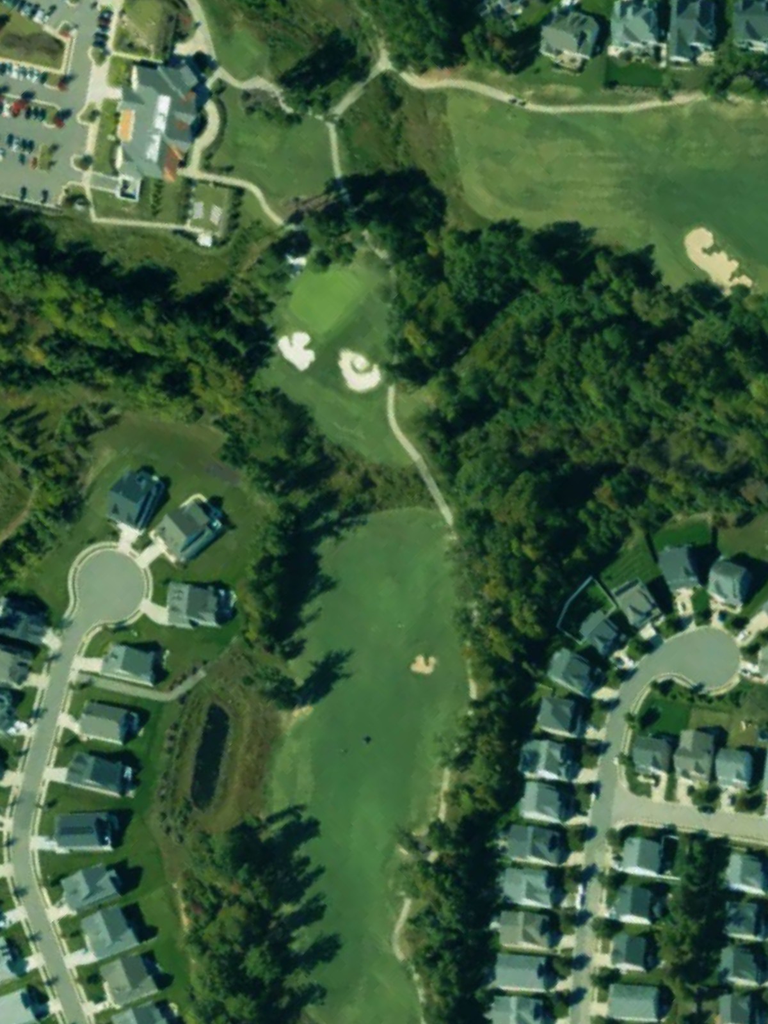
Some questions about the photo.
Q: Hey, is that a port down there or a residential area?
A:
residential area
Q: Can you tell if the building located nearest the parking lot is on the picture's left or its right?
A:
left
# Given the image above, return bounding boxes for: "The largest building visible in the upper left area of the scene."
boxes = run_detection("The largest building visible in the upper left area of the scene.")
[108,60,209,187]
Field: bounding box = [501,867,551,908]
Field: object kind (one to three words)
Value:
house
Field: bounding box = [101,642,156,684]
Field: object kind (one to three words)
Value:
house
